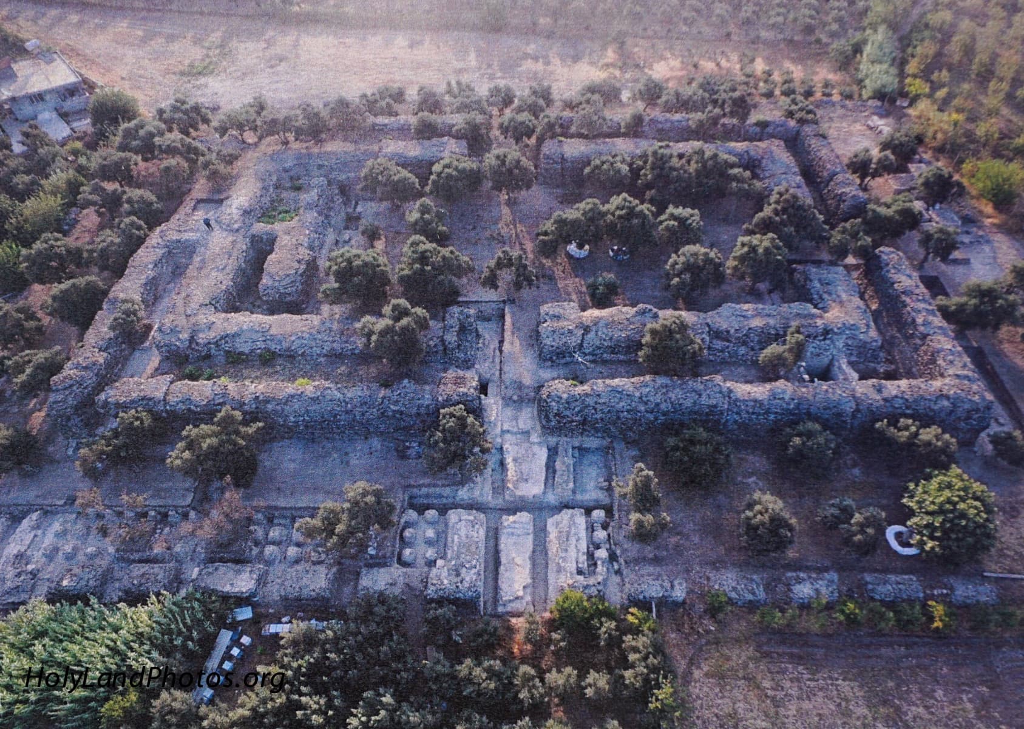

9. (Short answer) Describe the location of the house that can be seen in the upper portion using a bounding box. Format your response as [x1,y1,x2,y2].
[0,56,86,130]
